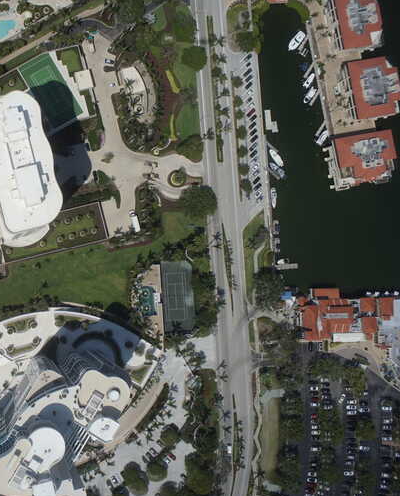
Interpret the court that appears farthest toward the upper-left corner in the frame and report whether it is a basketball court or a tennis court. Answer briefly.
tennis court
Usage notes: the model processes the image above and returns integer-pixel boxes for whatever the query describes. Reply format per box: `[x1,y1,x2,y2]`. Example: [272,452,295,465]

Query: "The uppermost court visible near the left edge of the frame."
[17,53,81,132]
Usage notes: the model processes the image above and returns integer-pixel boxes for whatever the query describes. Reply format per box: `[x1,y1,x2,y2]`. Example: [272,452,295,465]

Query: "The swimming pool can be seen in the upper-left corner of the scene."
[0,18,18,39]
